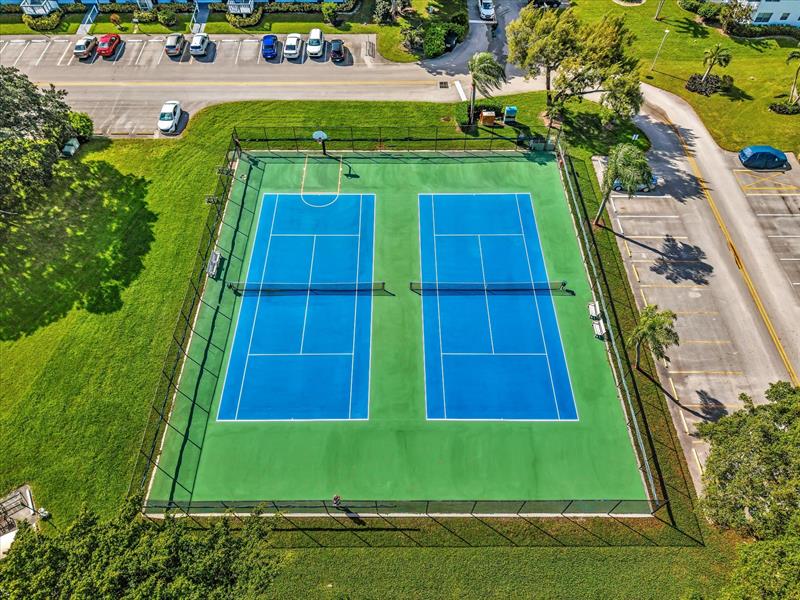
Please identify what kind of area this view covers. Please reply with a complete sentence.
This image shows a sports ground.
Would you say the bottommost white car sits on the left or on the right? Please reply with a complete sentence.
The bottommost white car sits on the left side.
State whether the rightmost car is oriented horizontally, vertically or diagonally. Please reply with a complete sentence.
The rightmost car runs horizontally in the image.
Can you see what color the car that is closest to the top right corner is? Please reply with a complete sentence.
From above, the car that is closest to the top right corner appears blue.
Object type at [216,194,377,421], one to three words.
tennis court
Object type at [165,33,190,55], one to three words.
car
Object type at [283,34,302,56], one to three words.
car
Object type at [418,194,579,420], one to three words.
tennis court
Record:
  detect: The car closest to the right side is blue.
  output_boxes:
[738,144,791,166]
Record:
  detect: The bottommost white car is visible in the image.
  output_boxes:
[155,102,184,133]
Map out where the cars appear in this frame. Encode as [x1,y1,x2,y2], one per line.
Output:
[73,34,101,57]
[190,32,212,55]
[329,37,346,58]
[642,170,663,191]
[283,34,302,56]
[98,35,124,56]
[738,144,791,166]
[479,0,497,20]
[165,33,190,55]
[305,24,326,54]
[155,102,184,133]
[259,34,280,57]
